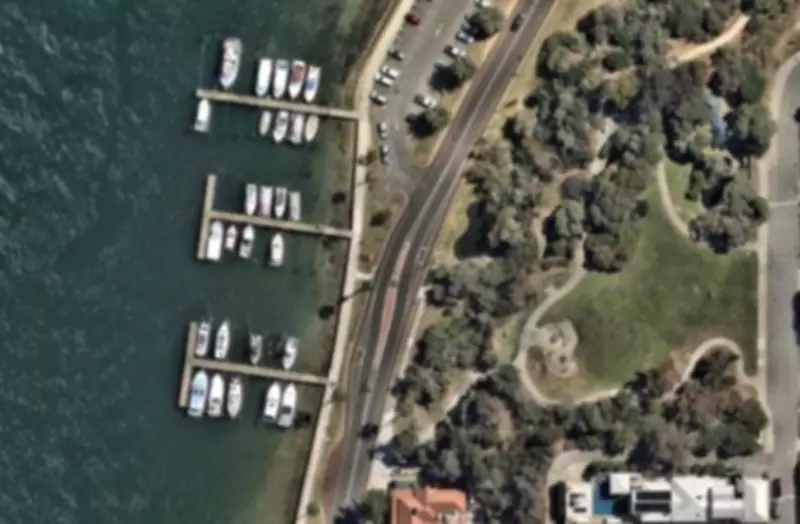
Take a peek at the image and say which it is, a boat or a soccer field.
boat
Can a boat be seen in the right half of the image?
No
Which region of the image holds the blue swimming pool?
bottom right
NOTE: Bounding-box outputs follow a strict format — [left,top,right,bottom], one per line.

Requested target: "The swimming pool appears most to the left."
[593,485,616,515]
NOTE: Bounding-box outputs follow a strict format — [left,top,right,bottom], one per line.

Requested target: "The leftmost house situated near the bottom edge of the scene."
[392,469,468,524]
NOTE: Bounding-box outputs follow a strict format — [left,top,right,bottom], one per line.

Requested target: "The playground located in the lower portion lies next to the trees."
[518,319,578,380]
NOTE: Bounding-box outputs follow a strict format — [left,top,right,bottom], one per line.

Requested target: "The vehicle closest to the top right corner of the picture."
[510,13,523,30]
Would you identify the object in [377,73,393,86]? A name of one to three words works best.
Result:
vehicle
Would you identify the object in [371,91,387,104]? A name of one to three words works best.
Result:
vehicle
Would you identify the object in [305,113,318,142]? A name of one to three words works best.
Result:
boat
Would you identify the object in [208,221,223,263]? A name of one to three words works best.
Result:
boat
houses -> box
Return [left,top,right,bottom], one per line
[566,474,770,524]
[392,469,468,524]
